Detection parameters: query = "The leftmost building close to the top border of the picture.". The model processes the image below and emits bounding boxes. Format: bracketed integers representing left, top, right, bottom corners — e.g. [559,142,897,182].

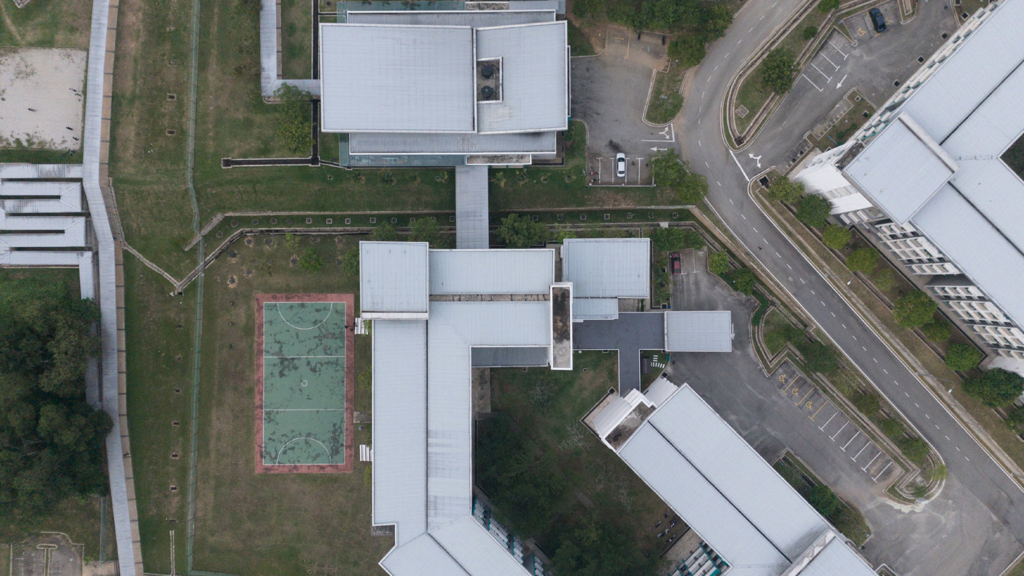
[319,0,571,169]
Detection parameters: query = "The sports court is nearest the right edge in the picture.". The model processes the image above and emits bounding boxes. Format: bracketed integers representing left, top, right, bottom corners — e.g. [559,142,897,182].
[255,294,354,473]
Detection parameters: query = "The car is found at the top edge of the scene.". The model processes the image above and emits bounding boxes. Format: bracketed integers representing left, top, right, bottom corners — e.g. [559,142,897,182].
[869,7,885,33]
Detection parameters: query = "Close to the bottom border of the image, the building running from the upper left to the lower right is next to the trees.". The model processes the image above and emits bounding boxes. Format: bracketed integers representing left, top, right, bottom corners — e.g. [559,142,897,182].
[591,376,885,576]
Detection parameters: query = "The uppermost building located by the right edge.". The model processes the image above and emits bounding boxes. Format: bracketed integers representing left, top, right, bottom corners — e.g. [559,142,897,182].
[799,0,1024,378]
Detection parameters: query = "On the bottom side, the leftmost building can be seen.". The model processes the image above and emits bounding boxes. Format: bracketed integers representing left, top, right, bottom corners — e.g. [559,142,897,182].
[360,241,558,576]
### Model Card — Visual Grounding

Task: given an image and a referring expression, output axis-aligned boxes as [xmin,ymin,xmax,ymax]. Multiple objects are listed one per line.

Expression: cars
[671,253,682,275]
[869,7,885,33]
[615,153,626,178]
